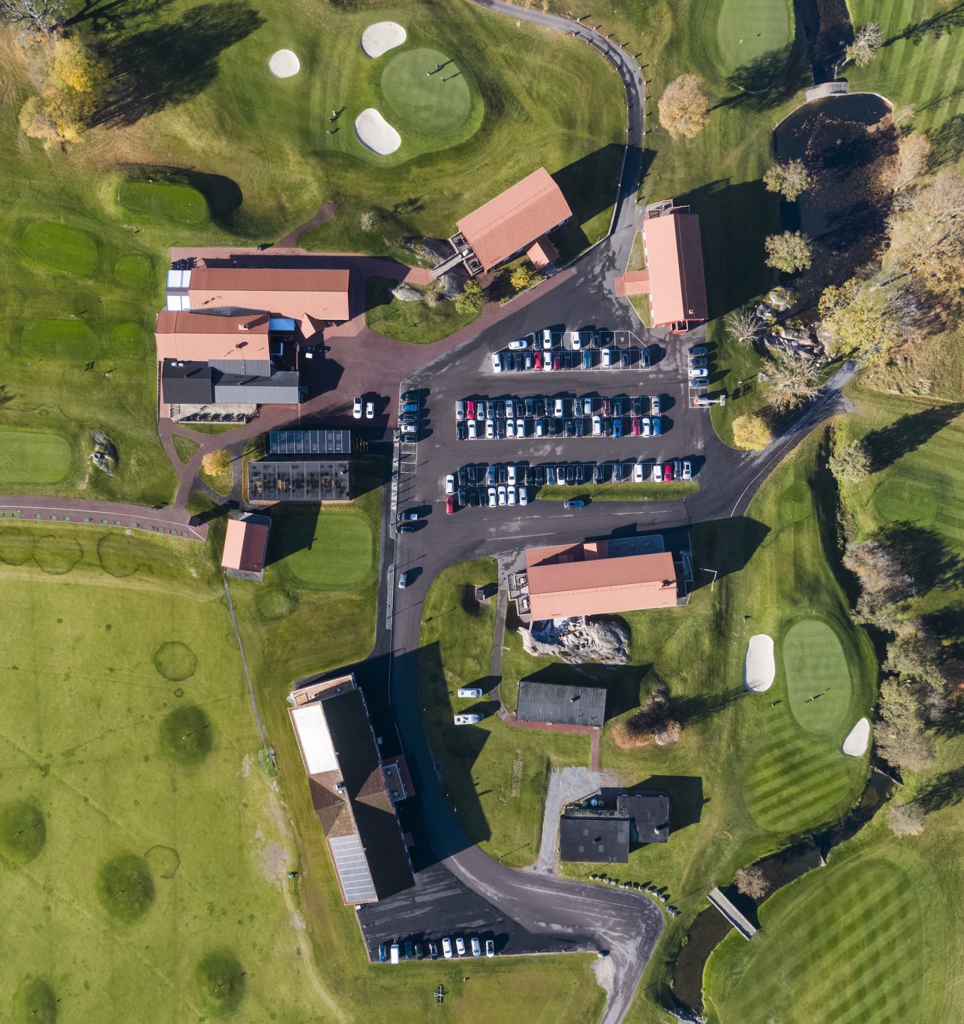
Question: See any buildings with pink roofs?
Yes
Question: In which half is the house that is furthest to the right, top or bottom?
top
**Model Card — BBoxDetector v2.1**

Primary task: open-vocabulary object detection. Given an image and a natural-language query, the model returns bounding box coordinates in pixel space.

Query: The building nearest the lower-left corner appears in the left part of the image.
[287,672,415,905]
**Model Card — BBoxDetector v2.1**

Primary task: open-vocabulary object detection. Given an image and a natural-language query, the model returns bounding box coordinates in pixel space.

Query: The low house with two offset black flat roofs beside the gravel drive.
[560,787,670,863]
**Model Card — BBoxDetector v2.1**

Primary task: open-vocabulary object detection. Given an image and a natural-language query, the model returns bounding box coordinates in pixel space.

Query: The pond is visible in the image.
[776,95,897,323]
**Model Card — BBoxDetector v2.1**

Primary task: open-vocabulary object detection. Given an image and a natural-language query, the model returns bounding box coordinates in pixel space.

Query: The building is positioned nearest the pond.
[623,199,709,337]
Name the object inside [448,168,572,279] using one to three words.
house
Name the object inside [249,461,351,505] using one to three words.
shed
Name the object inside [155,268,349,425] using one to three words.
building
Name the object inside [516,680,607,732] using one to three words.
house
